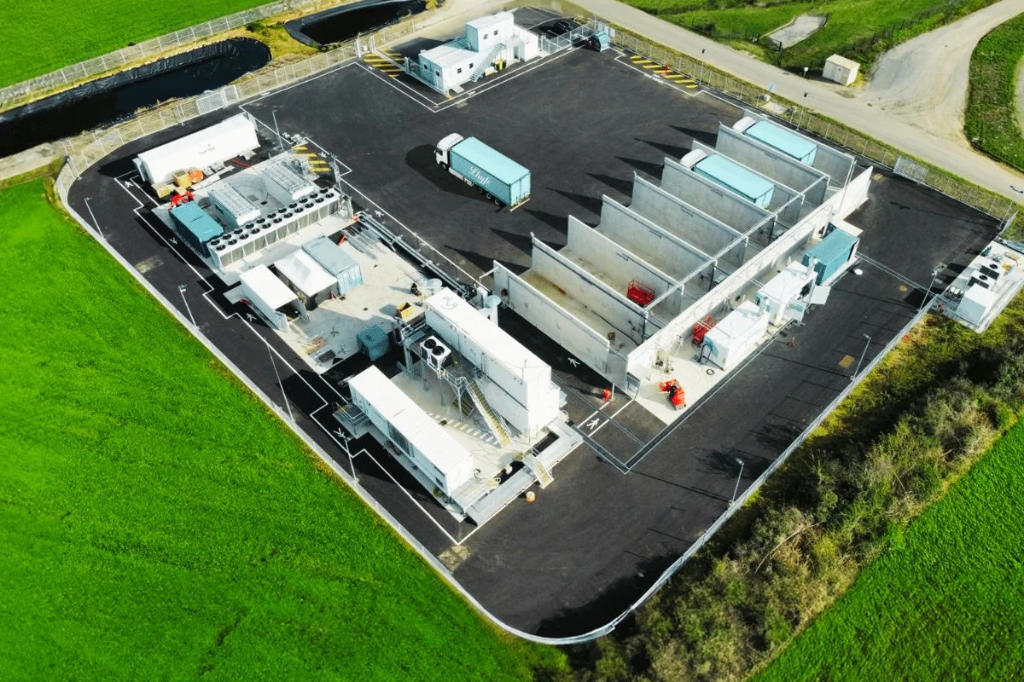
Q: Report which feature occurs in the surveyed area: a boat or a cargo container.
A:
cargo container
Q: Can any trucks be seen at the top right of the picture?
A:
Yes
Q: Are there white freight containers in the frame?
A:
Yes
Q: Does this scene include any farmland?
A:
Yes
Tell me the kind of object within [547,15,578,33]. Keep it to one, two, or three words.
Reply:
car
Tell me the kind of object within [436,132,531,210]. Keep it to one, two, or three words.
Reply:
truck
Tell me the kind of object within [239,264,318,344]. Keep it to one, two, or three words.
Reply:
shed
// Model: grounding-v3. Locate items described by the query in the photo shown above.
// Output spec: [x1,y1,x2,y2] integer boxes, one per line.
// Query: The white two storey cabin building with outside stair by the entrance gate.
[419,5,539,90]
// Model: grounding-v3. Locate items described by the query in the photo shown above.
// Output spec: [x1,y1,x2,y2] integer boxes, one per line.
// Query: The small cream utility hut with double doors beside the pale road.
[822,54,862,85]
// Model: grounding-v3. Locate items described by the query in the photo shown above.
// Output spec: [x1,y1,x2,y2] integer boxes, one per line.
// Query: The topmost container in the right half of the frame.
[805,226,870,284]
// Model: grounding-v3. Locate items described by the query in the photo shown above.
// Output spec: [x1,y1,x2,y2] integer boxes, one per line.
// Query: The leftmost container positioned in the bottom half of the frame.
[347,364,473,494]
